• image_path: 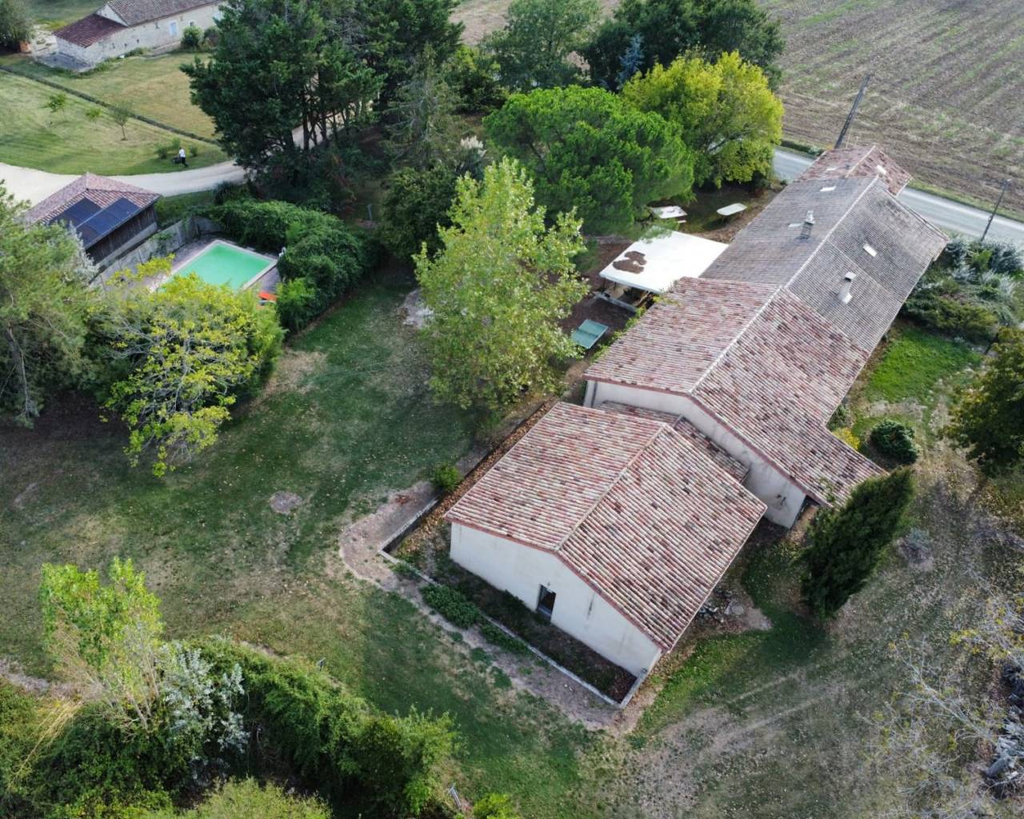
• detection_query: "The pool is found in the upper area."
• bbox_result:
[85,233,301,367]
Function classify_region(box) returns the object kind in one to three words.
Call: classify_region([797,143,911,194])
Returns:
house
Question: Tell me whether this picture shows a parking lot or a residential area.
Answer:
residential area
